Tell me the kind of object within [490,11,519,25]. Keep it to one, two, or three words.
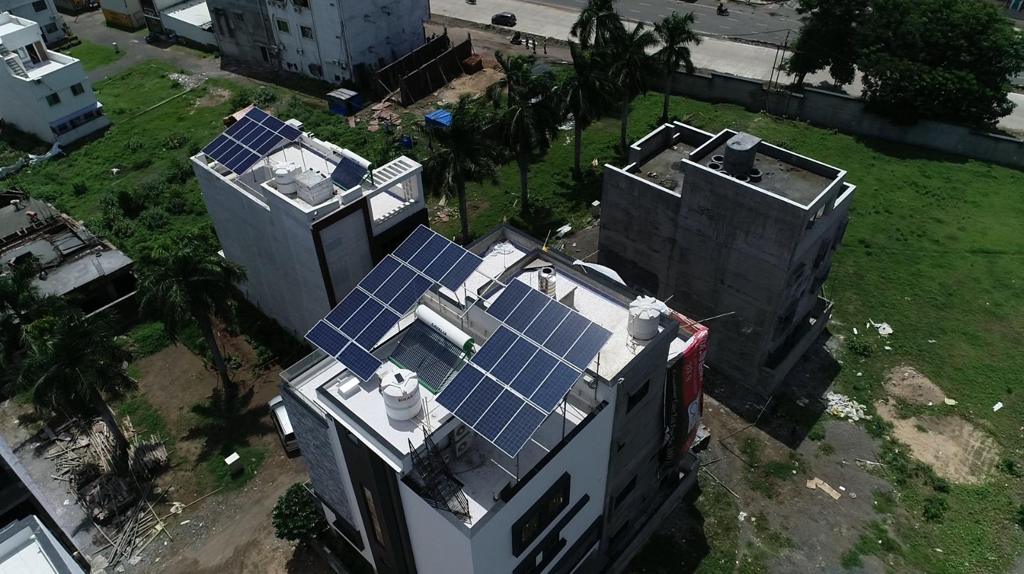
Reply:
car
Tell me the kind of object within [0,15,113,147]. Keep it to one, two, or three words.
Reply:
house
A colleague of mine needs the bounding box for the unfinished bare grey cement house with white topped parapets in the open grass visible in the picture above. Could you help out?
[597,123,860,382]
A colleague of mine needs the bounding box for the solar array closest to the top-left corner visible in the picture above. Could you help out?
[201,106,305,191]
